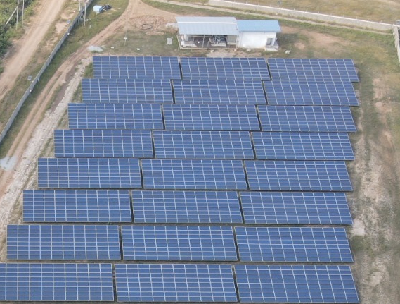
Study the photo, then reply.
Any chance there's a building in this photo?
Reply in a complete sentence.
Yes, this view includes a building.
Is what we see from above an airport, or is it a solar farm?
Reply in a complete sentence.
This image shows a solar farm.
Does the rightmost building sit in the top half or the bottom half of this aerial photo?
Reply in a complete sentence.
Seen from above, the rightmost building lies in the top half of the view.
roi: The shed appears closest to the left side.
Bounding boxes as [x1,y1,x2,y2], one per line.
[174,17,241,50]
